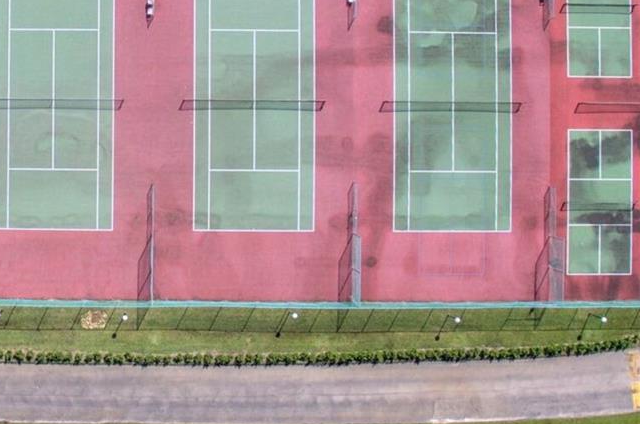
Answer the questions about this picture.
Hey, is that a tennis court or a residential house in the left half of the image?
tennis court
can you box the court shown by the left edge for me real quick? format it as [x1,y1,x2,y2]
[0,0,114,230]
